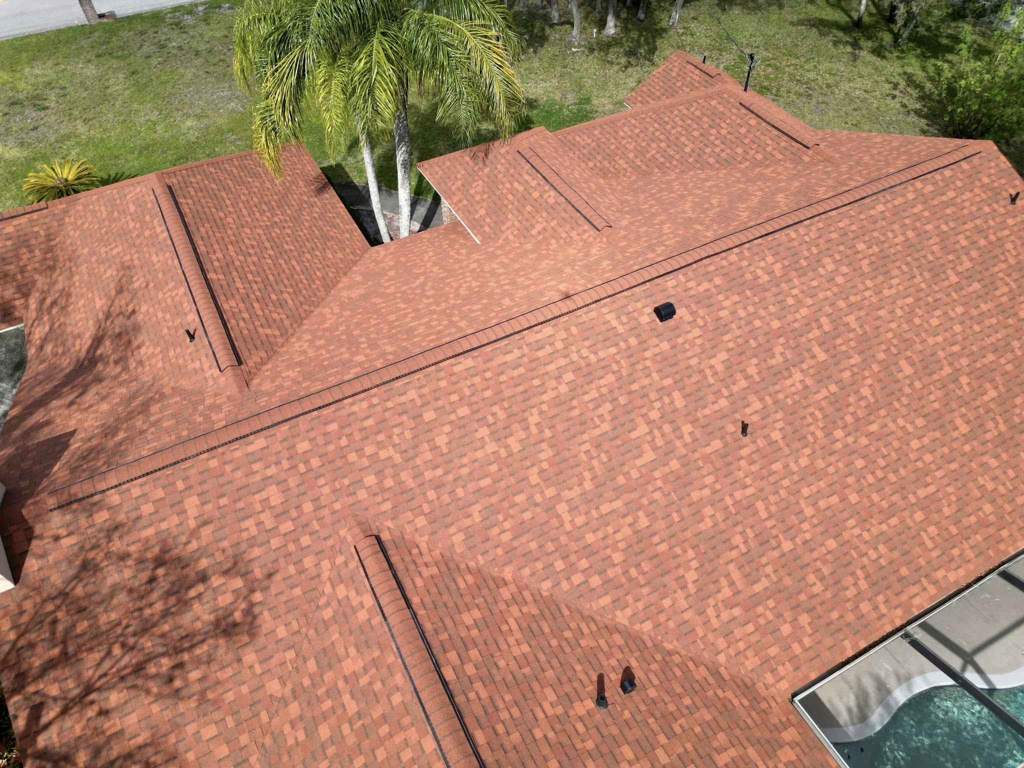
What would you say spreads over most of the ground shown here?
buildings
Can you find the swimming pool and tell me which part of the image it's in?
bottom right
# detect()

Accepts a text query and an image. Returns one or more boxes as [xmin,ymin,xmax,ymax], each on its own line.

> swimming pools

[822,664,1024,768]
